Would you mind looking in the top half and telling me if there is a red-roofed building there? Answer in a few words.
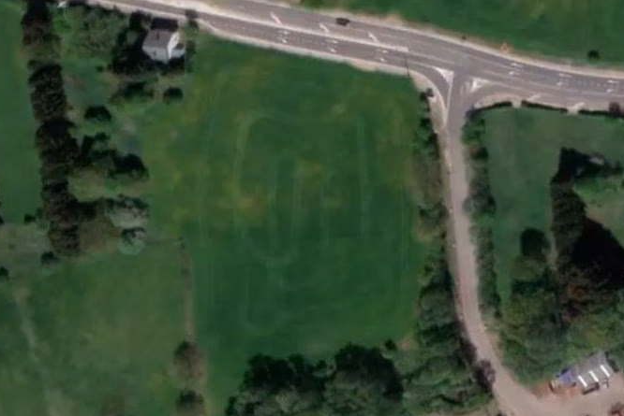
No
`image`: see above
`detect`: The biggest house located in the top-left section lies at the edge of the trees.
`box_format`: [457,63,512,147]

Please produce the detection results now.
[144,27,184,63]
